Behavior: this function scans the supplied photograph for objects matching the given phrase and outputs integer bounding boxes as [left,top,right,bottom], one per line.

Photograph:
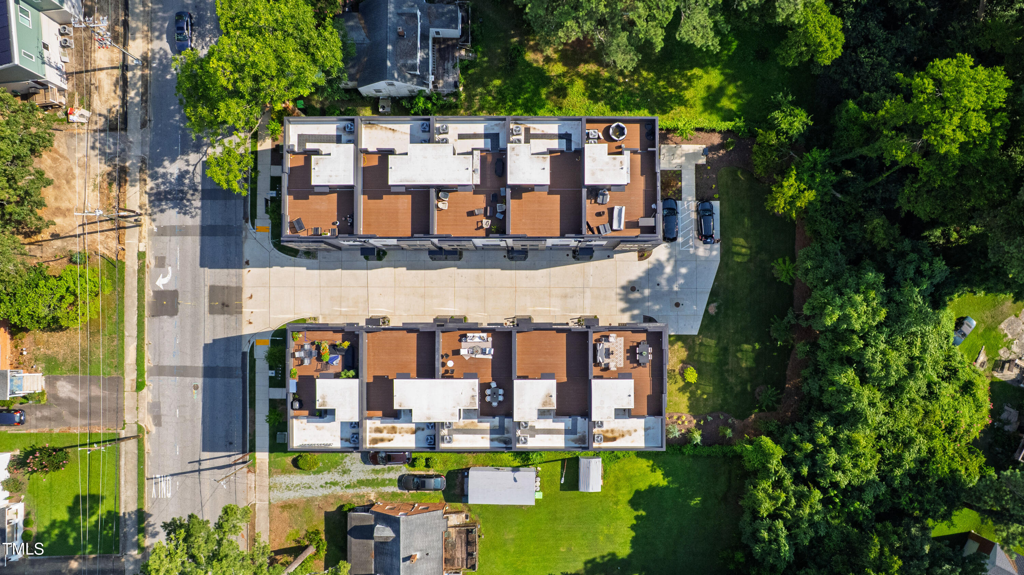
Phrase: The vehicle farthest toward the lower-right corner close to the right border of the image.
[943,312,980,349]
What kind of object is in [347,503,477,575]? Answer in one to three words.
house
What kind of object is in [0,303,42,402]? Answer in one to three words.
house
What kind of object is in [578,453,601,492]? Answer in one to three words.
shed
